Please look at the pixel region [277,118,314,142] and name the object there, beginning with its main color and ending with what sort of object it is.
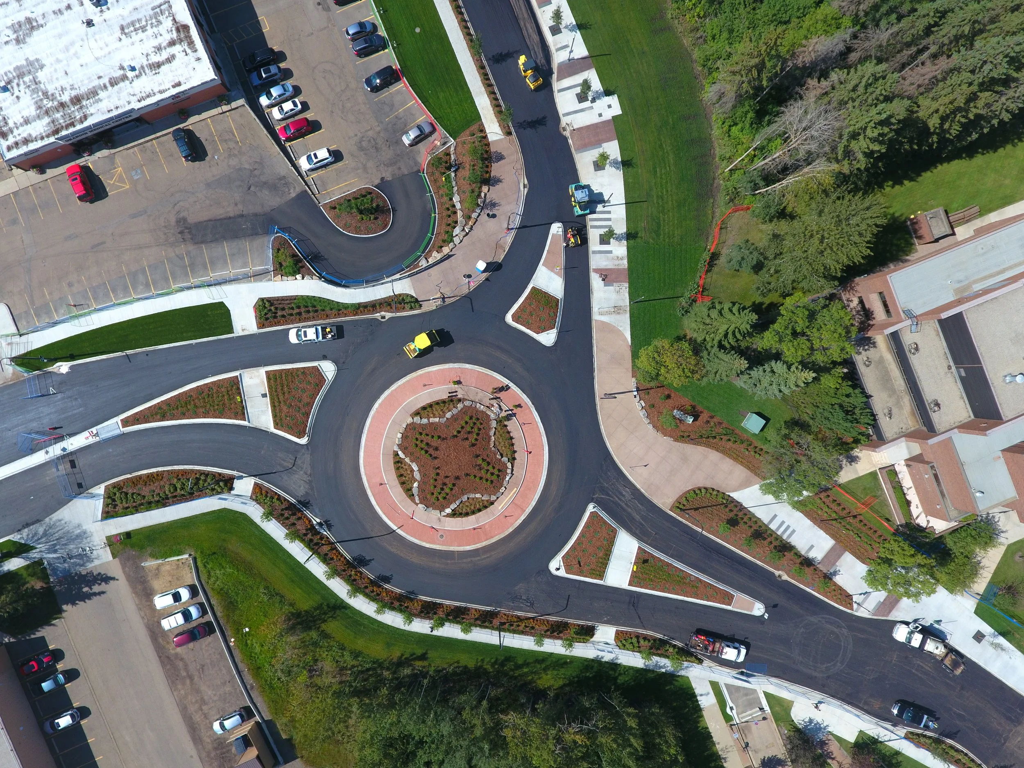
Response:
red car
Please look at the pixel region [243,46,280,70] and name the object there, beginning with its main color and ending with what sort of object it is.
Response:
black car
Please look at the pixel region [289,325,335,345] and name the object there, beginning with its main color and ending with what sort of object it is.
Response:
white vehicle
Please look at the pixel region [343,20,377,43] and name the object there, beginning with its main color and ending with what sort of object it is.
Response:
blue car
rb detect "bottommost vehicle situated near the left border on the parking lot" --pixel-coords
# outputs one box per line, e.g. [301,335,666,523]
[44,707,82,733]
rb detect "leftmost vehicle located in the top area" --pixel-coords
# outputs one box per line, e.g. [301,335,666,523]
[68,164,95,205]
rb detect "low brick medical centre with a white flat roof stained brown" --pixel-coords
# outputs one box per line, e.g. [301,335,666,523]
[0,0,226,166]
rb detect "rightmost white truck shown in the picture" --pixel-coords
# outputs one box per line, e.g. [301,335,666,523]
[891,621,951,660]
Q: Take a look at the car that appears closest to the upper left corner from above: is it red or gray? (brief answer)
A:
red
